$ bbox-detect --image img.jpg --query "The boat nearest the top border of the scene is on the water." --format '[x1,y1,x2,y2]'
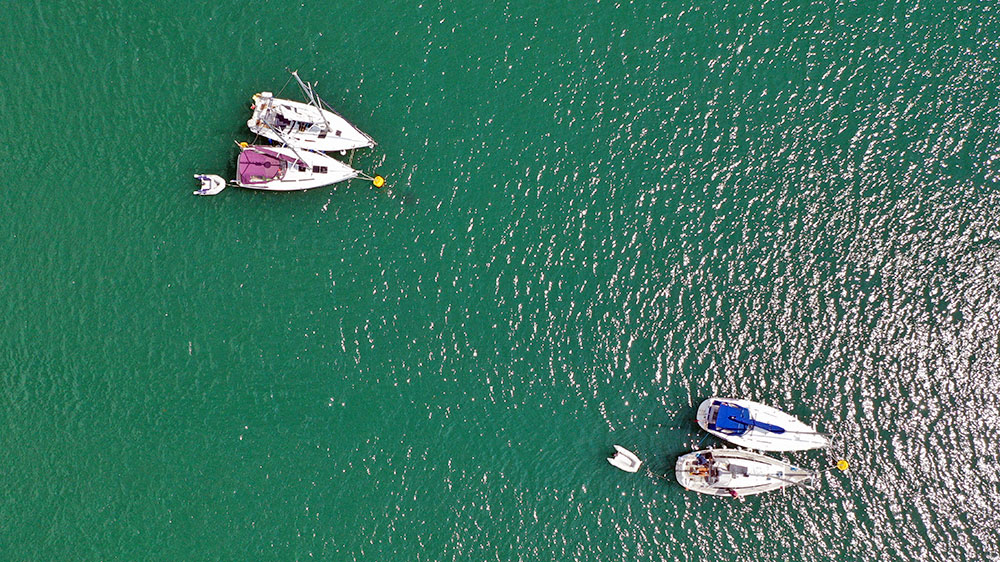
[250,70,377,151]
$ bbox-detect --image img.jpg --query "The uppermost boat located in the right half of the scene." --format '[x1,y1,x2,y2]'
[695,398,839,452]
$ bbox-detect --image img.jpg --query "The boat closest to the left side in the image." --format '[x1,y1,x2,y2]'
[194,175,227,195]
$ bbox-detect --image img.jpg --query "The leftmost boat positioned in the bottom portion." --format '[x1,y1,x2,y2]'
[607,445,641,470]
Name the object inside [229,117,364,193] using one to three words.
boat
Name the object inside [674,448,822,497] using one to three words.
boat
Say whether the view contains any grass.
No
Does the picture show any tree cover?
No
